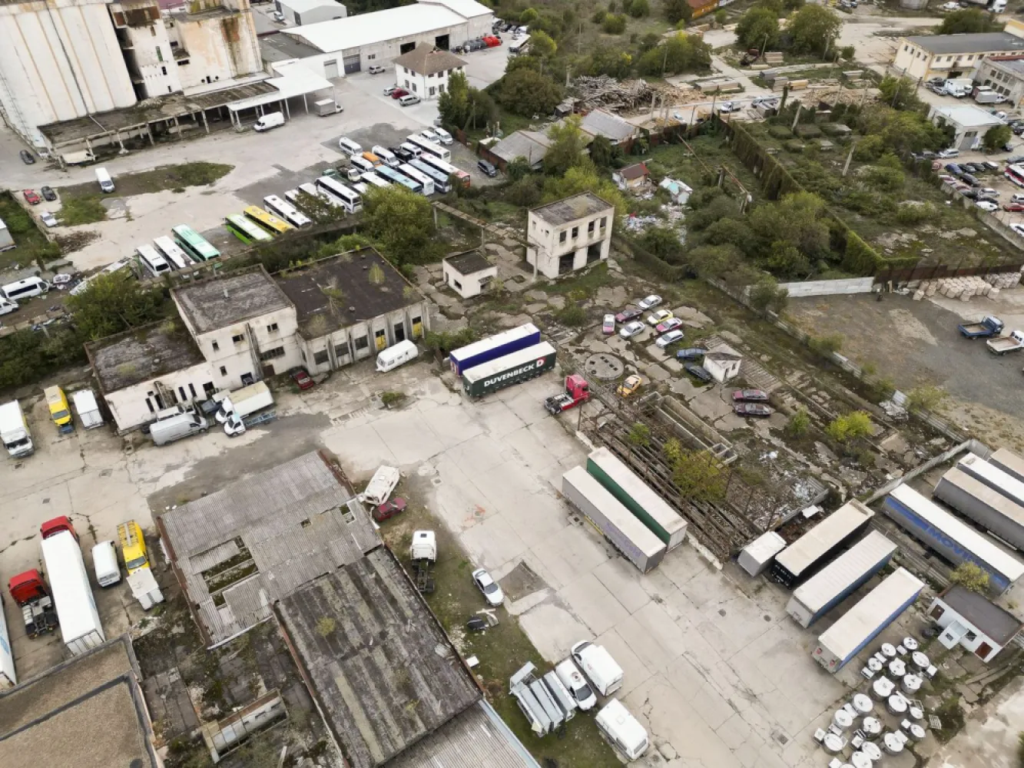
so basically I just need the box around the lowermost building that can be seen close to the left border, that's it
[0,635,174,768]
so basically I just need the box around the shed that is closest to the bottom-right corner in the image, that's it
[924,576,1024,664]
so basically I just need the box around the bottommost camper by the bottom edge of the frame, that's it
[587,698,662,768]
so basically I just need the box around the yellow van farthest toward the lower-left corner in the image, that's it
[114,524,151,573]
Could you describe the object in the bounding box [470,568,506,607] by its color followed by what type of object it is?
white car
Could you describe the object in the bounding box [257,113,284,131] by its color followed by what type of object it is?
white vehicle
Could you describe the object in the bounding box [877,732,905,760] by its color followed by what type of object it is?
white storage tank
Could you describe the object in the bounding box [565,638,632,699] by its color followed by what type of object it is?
white van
